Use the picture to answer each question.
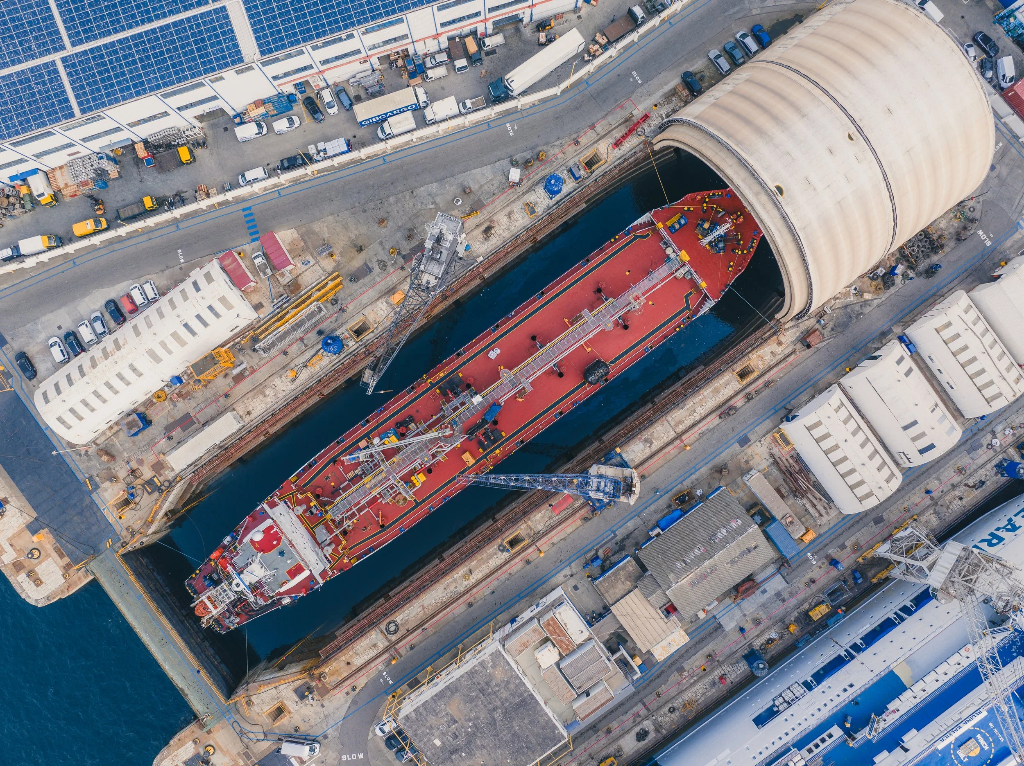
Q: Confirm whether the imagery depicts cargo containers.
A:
Yes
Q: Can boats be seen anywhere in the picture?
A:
Yes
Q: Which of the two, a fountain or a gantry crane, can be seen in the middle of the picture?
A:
gantry crane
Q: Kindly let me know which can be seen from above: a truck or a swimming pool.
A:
truck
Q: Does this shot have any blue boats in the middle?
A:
Yes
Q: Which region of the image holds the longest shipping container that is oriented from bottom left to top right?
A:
left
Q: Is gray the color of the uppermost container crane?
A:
Yes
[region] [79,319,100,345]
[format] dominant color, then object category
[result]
white car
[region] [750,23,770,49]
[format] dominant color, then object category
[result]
blue car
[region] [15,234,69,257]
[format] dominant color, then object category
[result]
white truck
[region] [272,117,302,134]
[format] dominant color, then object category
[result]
white vehicle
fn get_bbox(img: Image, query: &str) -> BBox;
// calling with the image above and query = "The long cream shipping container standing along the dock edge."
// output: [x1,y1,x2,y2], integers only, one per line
[166,411,247,471]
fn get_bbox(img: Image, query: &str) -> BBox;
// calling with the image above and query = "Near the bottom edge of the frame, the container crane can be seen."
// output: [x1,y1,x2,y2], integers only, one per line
[853,513,1024,766]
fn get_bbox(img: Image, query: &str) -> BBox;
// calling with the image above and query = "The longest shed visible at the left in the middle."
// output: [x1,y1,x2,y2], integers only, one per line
[29,258,257,444]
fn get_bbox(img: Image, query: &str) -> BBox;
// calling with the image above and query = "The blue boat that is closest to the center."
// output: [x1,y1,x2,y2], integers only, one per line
[468,404,502,435]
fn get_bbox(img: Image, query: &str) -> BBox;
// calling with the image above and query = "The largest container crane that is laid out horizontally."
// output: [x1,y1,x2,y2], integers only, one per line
[456,446,642,520]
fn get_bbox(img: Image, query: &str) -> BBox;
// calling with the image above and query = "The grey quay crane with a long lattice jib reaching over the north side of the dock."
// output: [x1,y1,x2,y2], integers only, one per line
[360,210,487,398]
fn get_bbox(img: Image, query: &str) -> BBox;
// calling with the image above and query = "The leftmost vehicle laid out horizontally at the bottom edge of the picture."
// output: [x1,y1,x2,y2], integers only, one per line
[281,733,322,754]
